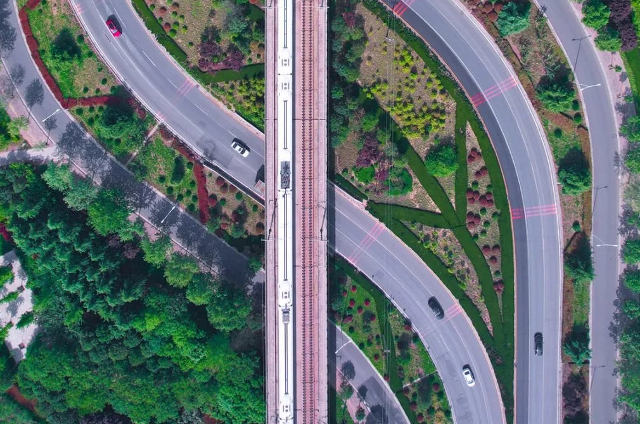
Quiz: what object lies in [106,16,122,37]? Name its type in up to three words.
car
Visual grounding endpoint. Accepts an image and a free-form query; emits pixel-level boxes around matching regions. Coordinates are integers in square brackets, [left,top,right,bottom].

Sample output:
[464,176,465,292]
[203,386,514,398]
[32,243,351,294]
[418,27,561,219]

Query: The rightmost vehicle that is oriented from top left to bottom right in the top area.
[230,139,251,155]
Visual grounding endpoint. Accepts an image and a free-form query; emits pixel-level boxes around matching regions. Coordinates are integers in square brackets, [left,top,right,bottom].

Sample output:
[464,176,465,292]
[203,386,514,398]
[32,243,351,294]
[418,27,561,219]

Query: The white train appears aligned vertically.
[276,0,293,424]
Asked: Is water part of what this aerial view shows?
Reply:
No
